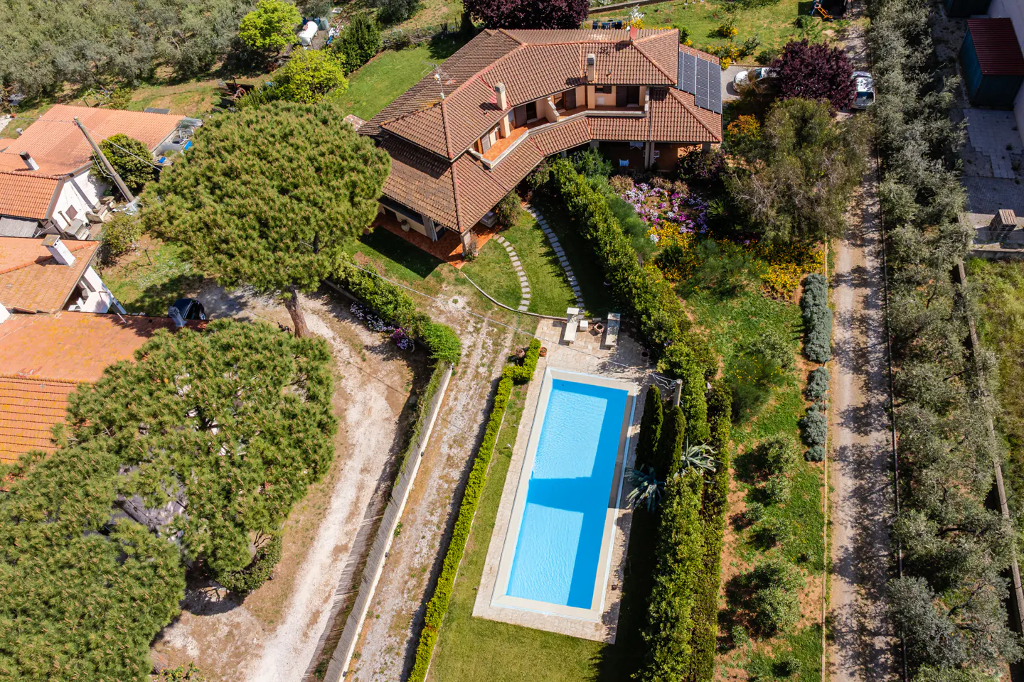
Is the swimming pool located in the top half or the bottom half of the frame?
bottom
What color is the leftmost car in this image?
black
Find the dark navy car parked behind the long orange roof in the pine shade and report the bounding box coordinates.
[165,288,215,324]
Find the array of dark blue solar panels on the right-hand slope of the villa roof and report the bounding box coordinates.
[681,49,722,111]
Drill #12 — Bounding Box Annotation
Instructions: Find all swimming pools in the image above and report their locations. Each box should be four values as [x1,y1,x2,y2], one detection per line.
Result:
[488,366,643,624]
